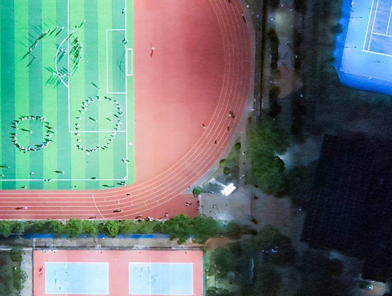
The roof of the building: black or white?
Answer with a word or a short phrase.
black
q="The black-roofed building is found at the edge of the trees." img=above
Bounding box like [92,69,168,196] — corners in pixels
[292,133,392,284]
